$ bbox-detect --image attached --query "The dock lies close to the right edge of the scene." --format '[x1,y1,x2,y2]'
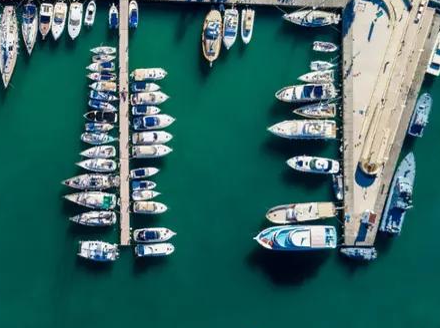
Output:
[339,0,440,246]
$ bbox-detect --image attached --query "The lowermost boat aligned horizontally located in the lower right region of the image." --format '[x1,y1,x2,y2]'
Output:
[339,246,378,260]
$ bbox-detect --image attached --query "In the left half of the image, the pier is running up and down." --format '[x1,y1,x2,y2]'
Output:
[118,0,132,245]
